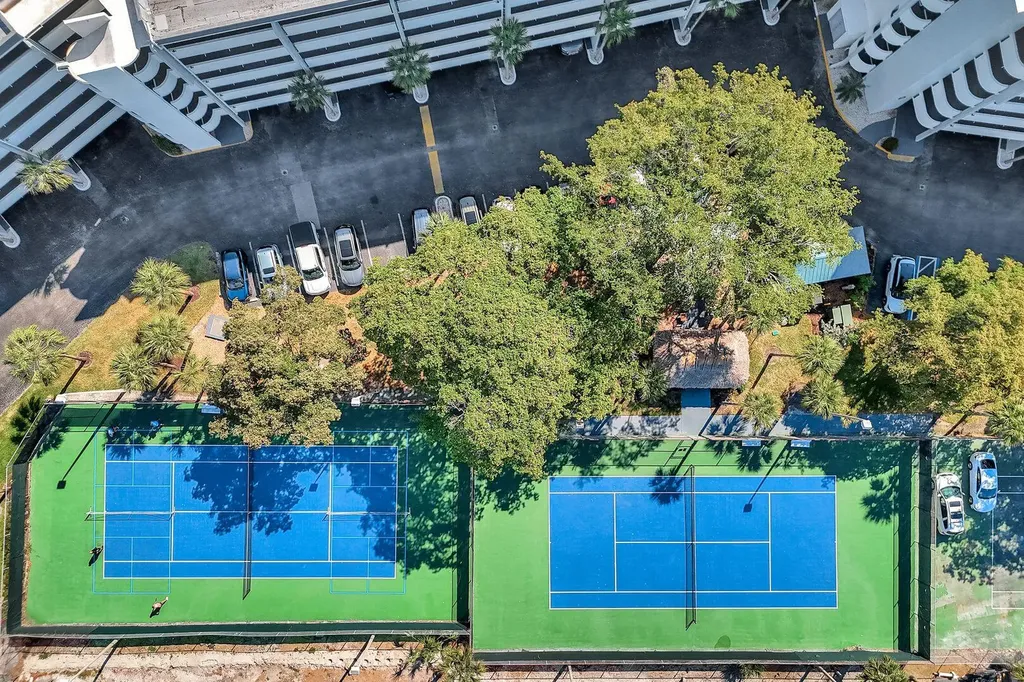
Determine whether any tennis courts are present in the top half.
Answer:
No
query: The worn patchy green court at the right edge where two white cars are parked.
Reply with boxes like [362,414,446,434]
[931,438,1024,655]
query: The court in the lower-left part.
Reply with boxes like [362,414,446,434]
[28,404,472,625]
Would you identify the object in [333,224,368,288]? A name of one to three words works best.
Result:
car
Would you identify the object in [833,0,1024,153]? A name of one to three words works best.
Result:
building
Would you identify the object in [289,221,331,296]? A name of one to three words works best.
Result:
truck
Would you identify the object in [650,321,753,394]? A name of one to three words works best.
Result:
shed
